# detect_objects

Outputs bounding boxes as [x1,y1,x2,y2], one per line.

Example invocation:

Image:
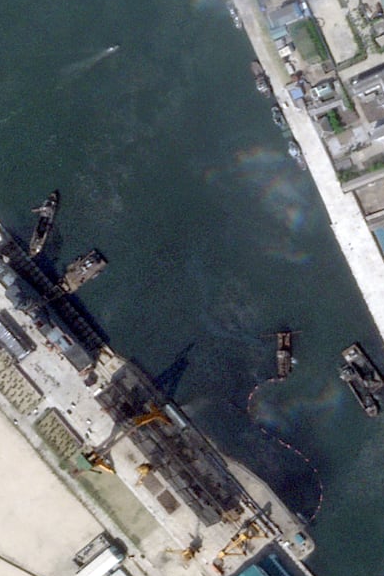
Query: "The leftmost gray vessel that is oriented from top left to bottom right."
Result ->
[0,260,101,378]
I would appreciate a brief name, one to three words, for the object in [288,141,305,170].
boat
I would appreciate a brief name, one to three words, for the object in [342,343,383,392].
ship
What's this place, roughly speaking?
port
